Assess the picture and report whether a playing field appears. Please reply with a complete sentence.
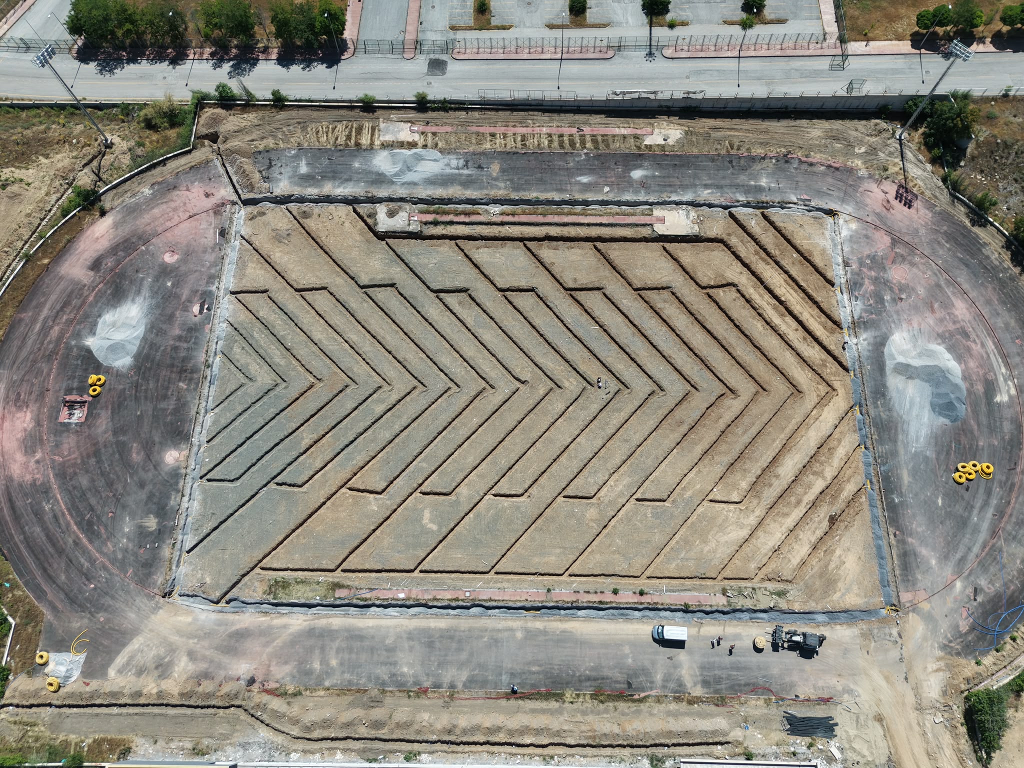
Yes, the image includes a playing field.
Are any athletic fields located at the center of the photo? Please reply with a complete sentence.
Yes, an athletic field can be seen at the center of the photo.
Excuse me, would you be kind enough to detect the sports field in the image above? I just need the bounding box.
[182,205,882,607]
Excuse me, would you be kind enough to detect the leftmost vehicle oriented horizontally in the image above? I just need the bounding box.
[651,624,689,643]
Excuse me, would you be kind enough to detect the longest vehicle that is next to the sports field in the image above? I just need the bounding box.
[770,629,828,651]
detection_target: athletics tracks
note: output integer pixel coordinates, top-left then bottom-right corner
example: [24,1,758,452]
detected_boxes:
[0,149,1024,696]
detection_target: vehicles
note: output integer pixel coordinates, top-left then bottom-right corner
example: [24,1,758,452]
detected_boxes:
[770,629,828,651]
[651,624,689,643]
